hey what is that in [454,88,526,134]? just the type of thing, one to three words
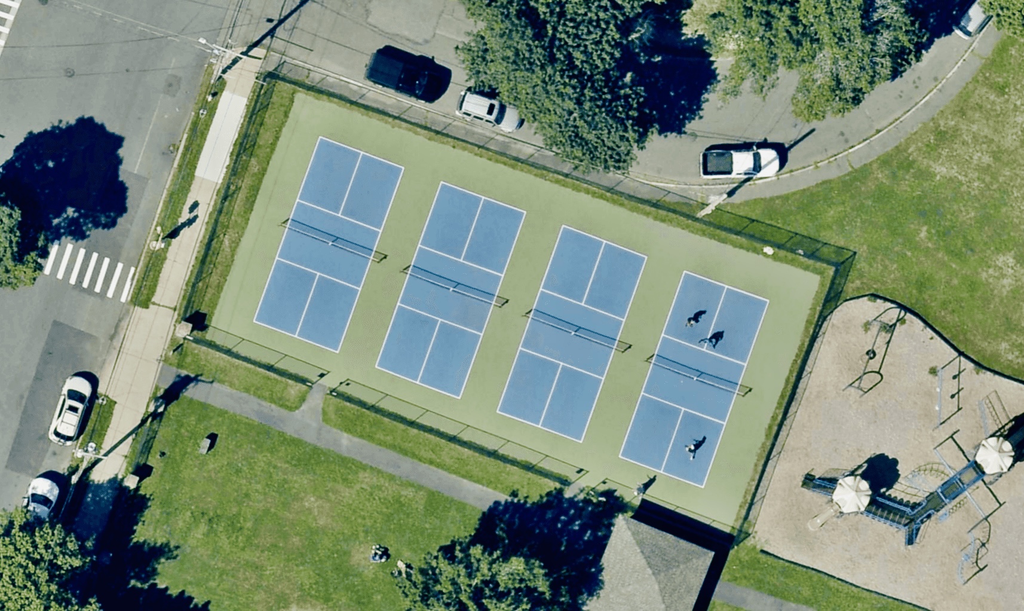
car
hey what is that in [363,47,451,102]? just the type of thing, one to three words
truck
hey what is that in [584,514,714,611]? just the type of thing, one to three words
building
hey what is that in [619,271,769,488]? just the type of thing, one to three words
sports court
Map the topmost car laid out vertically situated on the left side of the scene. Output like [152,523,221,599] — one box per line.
[49,375,90,450]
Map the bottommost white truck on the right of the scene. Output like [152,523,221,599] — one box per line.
[699,146,782,182]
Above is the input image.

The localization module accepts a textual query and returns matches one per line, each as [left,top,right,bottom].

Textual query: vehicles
[9,478,52,543]
[363,47,451,102]
[699,146,782,182]
[952,0,994,38]
[49,375,90,450]
[454,88,526,134]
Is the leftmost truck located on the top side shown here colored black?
Yes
